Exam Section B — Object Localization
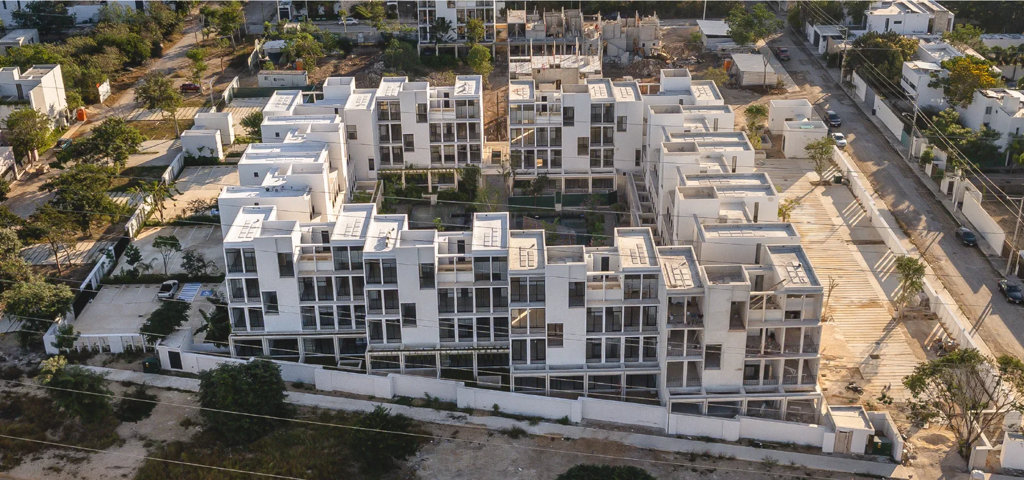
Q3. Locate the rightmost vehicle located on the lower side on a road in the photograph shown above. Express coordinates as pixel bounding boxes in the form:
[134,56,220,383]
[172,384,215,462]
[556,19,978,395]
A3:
[1000,277,1024,299]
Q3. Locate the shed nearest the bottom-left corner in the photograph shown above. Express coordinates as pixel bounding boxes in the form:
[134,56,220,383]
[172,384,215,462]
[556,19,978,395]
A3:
[157,326,193,367]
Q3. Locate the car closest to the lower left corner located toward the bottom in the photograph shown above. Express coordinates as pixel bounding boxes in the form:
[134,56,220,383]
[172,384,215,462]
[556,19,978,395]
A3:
[152,279,183,298]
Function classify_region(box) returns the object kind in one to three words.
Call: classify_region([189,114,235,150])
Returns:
building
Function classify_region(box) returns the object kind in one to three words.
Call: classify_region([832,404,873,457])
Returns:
shed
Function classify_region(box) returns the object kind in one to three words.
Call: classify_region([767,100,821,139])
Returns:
building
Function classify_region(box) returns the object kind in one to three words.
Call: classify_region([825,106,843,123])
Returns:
car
